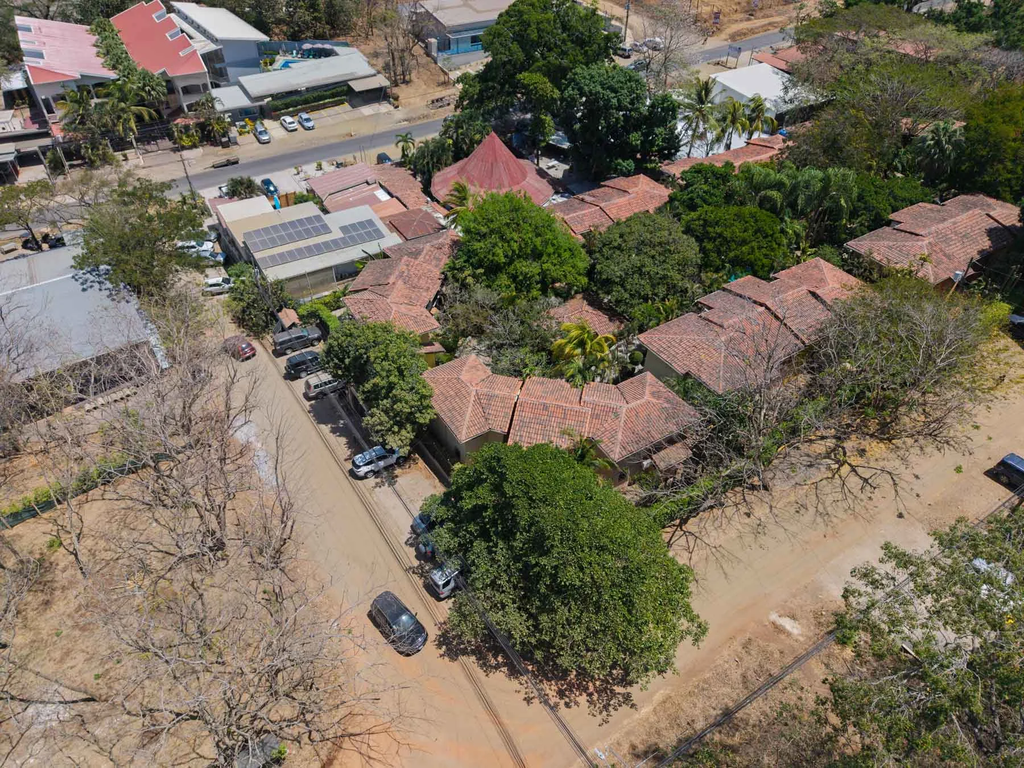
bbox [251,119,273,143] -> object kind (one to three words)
car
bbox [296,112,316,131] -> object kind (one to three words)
car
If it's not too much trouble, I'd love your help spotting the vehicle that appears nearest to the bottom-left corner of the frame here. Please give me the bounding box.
[371,588,431,660]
